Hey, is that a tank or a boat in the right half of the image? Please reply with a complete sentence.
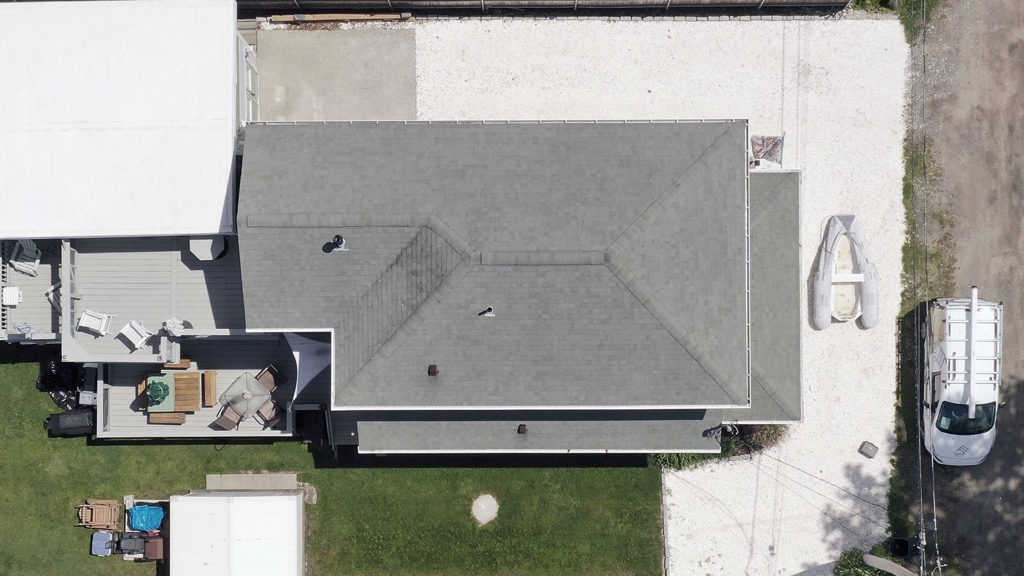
There is a boat in the right half of the image.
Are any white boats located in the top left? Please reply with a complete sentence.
No, there is no white boat in the top left.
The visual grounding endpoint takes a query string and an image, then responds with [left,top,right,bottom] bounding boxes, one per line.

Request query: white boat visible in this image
[815,214,878,329]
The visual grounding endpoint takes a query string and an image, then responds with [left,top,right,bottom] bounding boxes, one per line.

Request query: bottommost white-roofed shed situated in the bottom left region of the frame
[170,488,304,576]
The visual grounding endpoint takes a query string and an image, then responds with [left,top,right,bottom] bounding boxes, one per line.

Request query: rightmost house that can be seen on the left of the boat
[238,119,802,456]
